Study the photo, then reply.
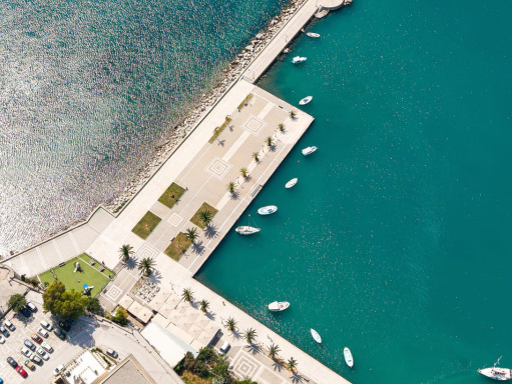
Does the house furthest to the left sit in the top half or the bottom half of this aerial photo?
bottom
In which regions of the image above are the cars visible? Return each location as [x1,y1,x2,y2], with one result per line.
[39,338,55,354]
[29,330,43,345]
[2,318,17,332]
[217,338,232,354]
[19,344,32,358]
[17,304,32,318]
[23,357,38,372]
[58,318,72,332]
[22,336,37,352]
[28,352,45,367]
[105,346,120,361]
[5,354,19,368]
[0,324,11,338]
[52,326,67,341]
[52,361,65,376]
[0,334,6,345]
[35,346,51,361]
[13,363,29,379]
[36,325,50,339]
[23,299,38,313]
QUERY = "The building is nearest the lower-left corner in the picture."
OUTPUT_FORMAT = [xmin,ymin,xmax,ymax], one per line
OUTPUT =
[63,348,112,384]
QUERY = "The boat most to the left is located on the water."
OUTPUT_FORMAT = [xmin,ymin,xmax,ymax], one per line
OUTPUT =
[235,217,260,233]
